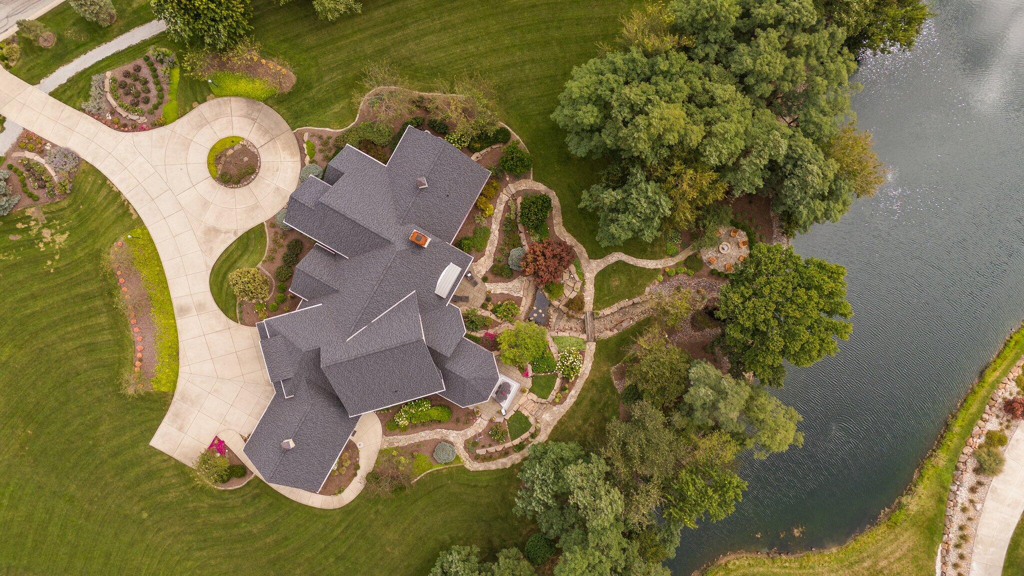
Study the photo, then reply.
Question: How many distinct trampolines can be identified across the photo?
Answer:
0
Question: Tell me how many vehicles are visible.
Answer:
0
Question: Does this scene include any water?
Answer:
Yes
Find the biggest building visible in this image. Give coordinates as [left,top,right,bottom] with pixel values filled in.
[242,124,500,493]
